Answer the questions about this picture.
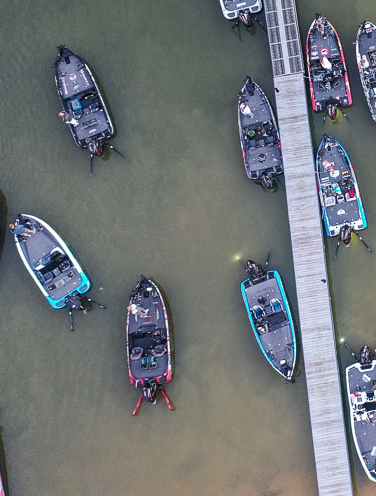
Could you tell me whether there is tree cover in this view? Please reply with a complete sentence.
No, the scene doesn't show any tree cover.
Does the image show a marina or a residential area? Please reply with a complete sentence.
The area seen from above is a marina.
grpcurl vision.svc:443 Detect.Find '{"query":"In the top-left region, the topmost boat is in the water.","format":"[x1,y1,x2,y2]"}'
[56,41,126,175]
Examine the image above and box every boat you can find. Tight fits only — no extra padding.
[353,16,376,117]
[236,73,286,188]
[316,129,372,259]
[341,339,376,483]
[128,274,174,416]
[306,11,350,123]
[221,0,263,29]
[237,252,298,386]
[56,41,126,175]
[12,211,106,331]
